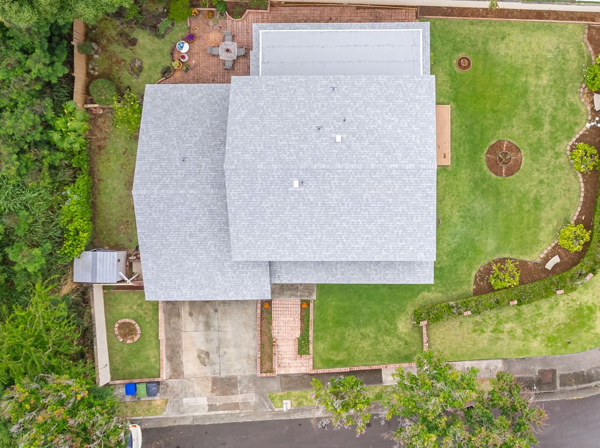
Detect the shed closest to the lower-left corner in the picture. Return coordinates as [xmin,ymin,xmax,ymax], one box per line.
[74,251,131,283]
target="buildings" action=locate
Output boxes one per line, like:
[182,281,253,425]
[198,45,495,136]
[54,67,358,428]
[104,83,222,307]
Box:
[132,22,437,301]
[74,251,131,283]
